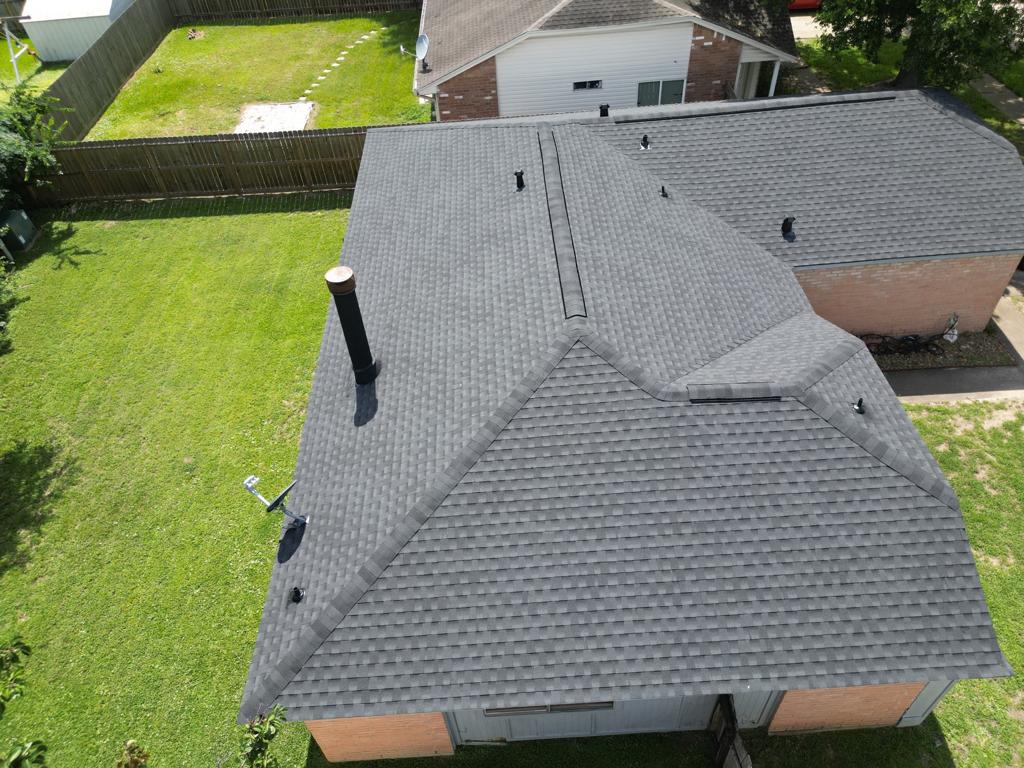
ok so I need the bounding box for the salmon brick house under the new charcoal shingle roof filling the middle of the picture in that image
[235,87,1024,764]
